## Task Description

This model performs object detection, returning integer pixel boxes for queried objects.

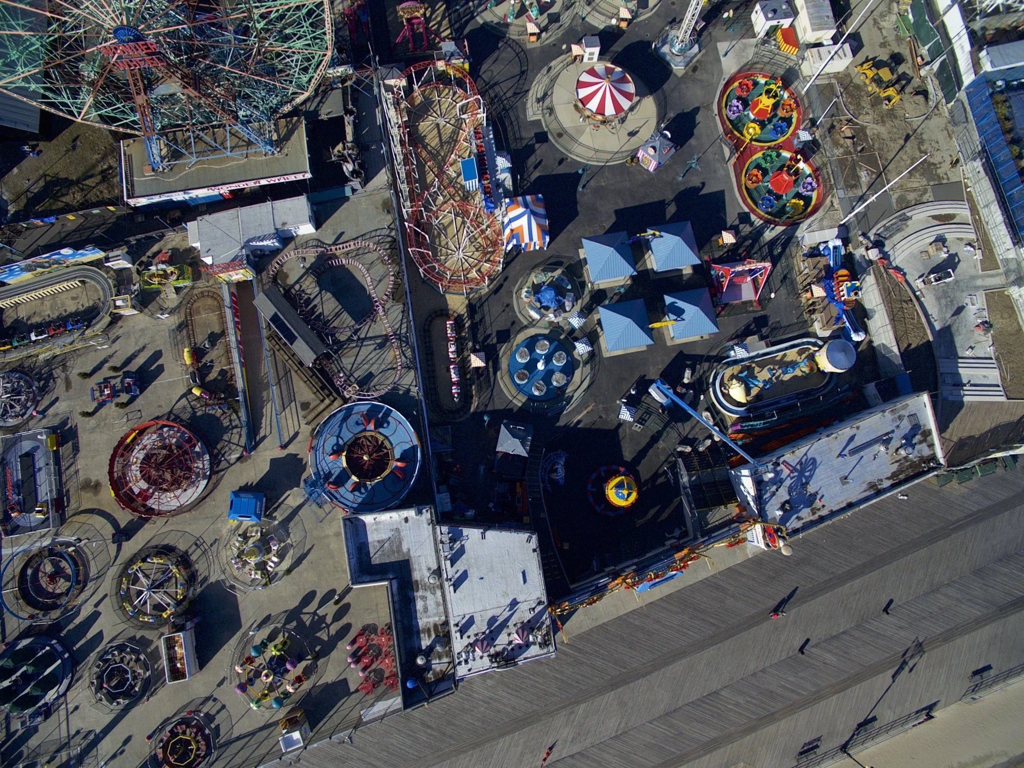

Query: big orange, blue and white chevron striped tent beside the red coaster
[504,194,549,255]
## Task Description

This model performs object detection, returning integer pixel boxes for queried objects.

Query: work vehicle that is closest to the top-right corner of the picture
[852,60,902,110]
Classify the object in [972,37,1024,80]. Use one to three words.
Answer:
house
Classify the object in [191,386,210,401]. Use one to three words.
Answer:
rail car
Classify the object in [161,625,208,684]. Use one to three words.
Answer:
trailer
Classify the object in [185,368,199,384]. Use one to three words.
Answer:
rail car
